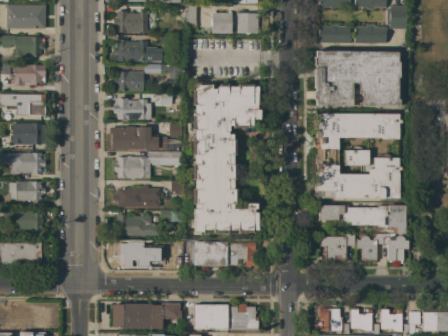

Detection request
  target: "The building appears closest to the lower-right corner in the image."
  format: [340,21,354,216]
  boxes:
[423,312,448,332]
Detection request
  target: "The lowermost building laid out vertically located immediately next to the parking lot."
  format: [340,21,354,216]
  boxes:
[195,84,260,231]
